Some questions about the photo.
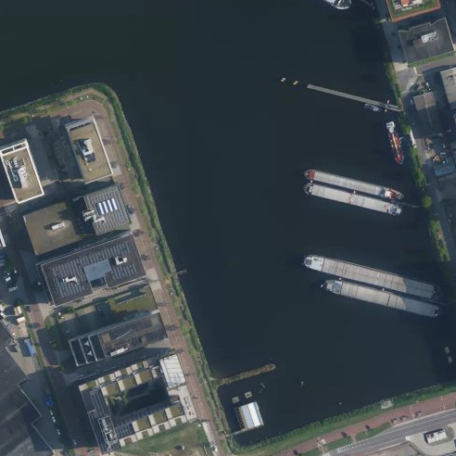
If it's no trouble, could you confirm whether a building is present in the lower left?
Yes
